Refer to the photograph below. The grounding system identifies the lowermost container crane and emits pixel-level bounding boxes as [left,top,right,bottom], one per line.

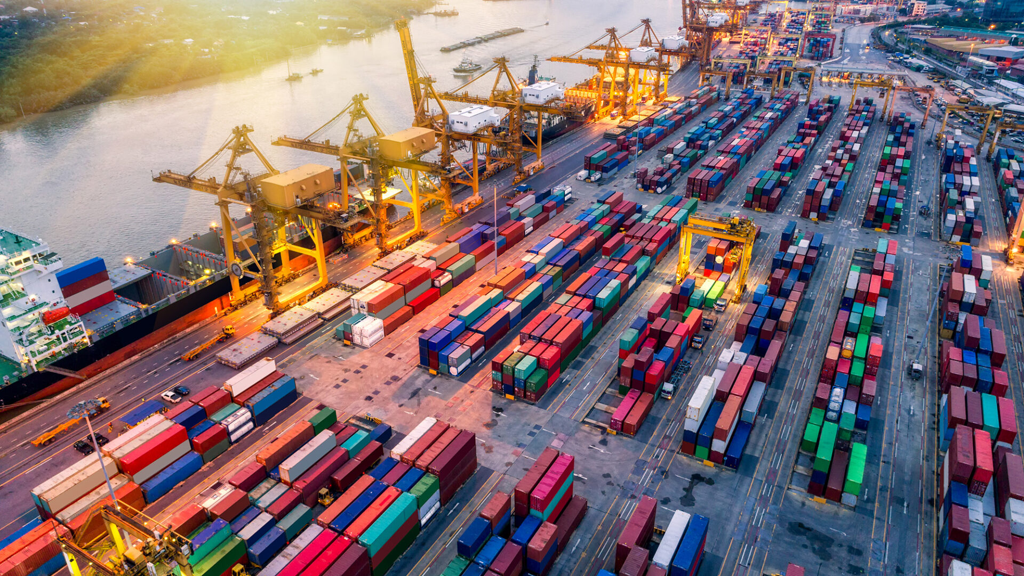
[33,489,204,576]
